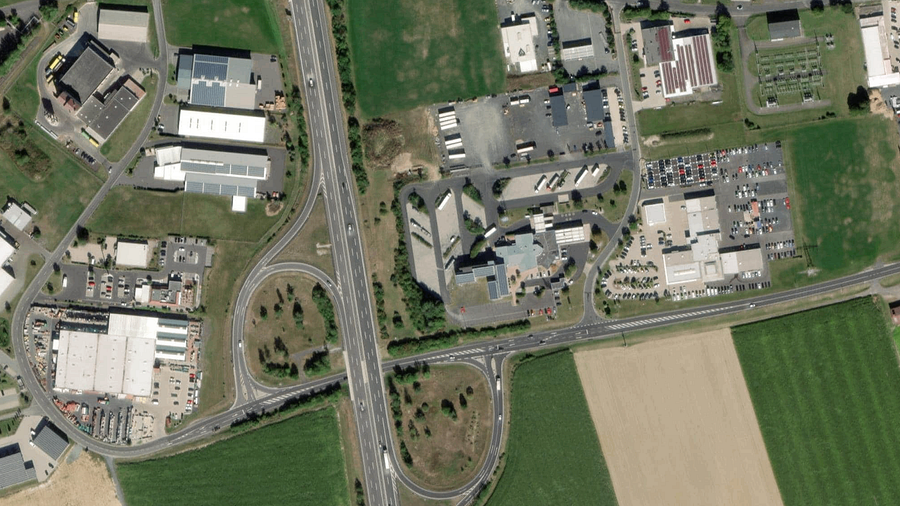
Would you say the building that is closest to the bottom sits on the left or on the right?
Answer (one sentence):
The building that is closest to the bottom sits on the left side.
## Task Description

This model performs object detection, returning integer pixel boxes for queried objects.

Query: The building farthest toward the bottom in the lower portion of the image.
[0,452,39,490]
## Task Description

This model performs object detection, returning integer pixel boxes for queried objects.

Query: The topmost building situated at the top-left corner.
[98,10,150,43]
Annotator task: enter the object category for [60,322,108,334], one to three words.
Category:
house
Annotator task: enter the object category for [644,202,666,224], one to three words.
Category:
building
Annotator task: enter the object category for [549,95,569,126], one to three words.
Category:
shed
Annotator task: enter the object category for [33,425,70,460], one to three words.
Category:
building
